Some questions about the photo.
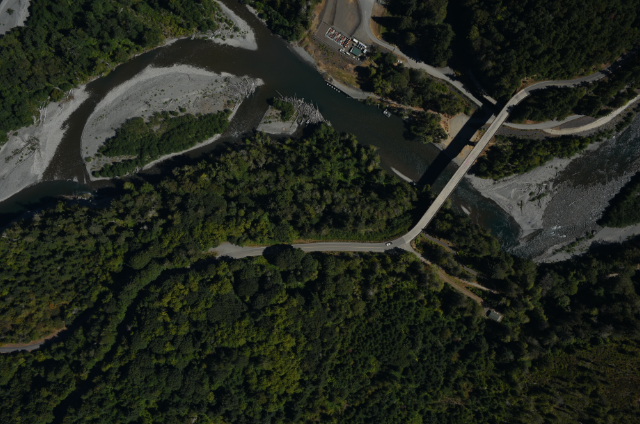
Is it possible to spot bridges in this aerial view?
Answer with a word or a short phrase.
Yes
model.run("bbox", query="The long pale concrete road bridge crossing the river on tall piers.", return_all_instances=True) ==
[402,87,531,243]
